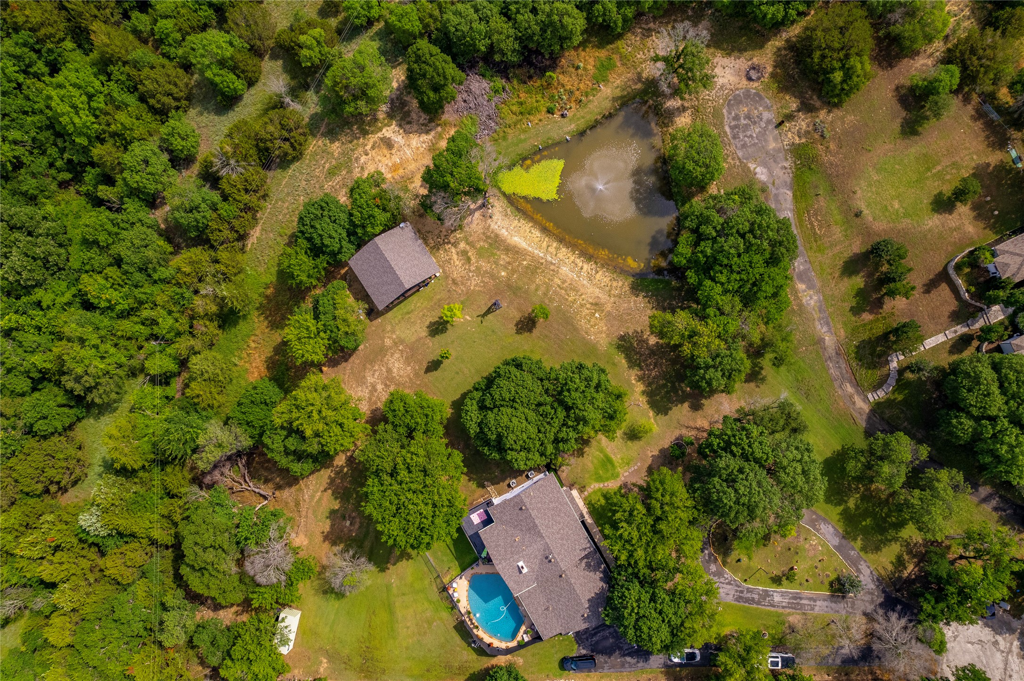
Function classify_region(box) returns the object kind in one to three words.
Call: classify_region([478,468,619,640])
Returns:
house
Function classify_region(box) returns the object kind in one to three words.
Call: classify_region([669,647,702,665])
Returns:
car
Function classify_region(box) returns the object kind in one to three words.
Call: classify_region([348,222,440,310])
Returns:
barn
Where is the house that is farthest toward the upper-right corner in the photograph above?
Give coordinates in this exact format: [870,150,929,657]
[983,233,1024,283]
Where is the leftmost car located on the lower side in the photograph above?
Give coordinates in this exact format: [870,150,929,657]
[562,654,596,674]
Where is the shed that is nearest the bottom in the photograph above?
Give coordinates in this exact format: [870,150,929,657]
[270,610,300,655]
